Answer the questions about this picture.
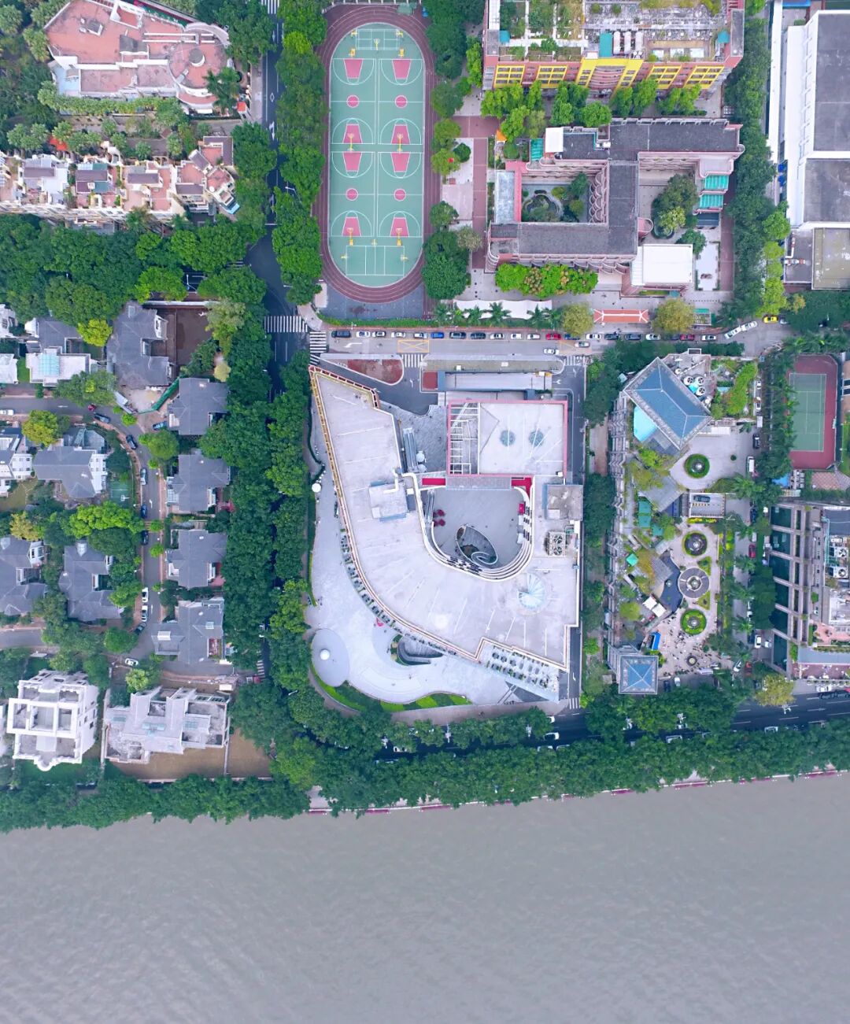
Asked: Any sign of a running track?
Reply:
Yes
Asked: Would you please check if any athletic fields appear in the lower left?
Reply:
No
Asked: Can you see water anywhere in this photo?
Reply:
Yes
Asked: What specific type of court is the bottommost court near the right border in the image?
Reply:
tennis court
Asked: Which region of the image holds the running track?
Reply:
top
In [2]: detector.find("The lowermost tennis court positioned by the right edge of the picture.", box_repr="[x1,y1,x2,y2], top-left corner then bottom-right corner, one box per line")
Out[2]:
[786,354,838,469]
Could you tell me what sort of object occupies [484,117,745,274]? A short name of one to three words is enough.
building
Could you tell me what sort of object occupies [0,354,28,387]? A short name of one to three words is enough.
house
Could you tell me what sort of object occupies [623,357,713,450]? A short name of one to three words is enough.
building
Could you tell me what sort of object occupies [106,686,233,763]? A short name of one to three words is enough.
house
